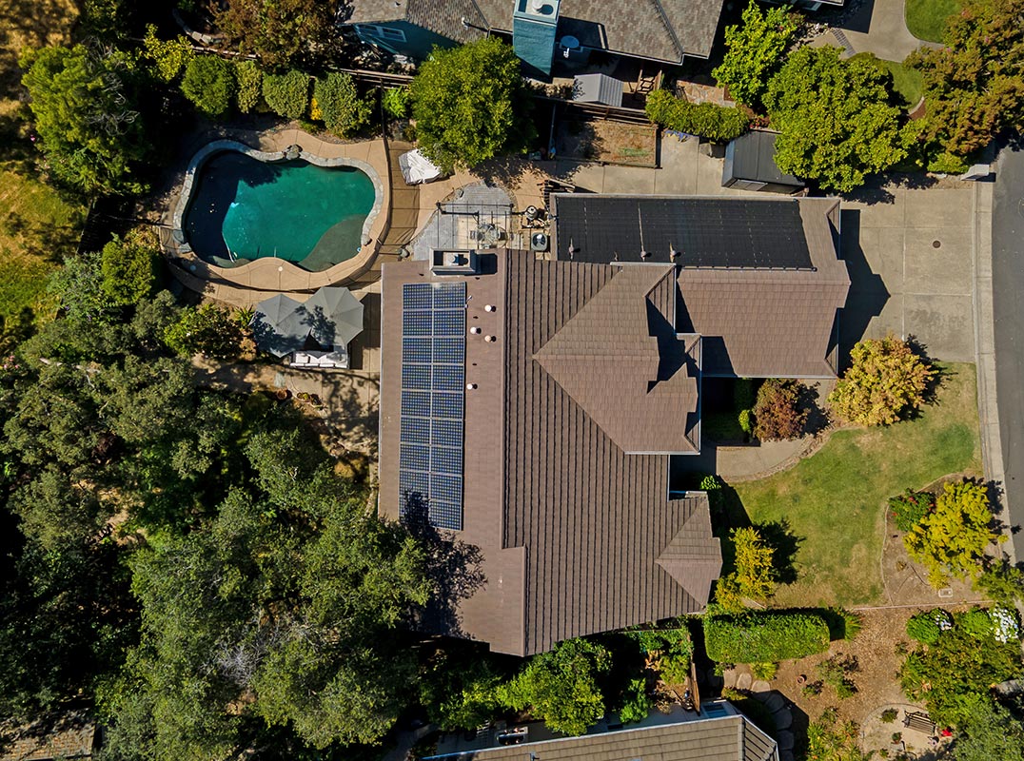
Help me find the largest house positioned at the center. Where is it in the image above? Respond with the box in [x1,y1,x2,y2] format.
[381,193,852,657]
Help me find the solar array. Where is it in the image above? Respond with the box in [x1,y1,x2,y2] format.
[401,277,465,534]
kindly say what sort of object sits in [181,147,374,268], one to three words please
swimming pool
